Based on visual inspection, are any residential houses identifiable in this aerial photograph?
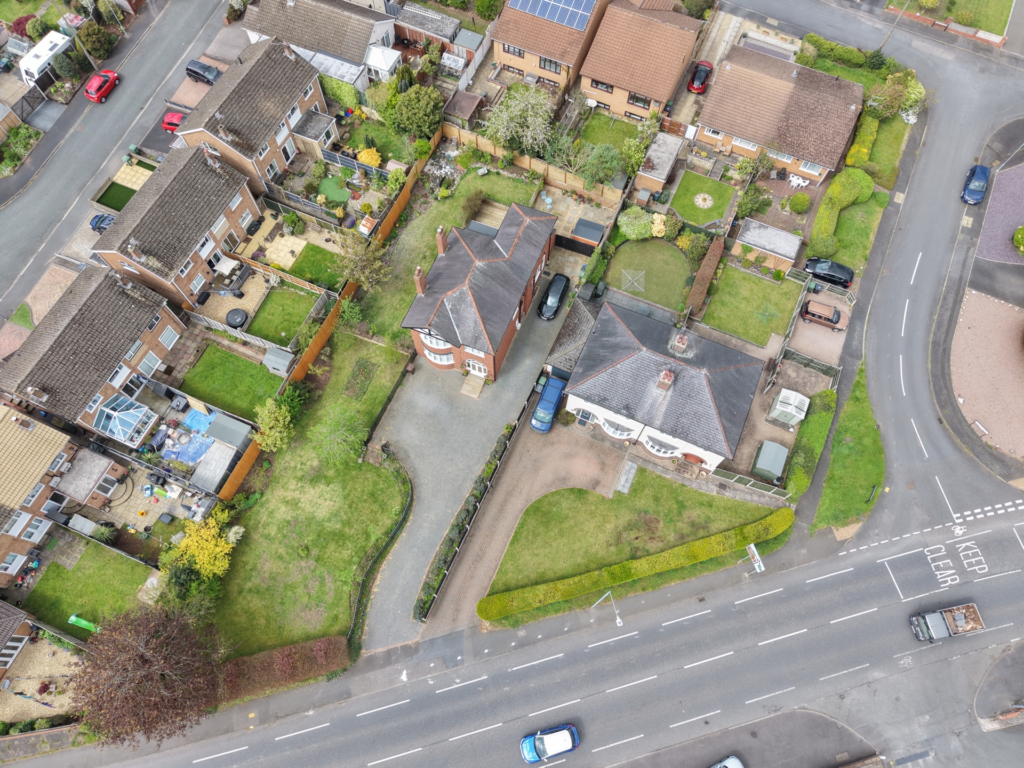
Yes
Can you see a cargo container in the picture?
No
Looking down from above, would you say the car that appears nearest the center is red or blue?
blue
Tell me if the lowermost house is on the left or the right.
left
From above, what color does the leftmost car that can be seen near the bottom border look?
white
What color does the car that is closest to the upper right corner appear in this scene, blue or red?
blue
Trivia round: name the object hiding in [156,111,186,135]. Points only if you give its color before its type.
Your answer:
red car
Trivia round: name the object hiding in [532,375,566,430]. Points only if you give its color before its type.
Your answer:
blue car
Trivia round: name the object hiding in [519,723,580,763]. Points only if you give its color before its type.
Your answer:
white car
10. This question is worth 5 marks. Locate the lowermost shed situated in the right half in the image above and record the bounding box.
[750,441,787,482]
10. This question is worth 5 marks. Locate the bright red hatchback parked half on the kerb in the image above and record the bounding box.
[85,72,122,102]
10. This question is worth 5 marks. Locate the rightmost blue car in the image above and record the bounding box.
[960,163,993,204]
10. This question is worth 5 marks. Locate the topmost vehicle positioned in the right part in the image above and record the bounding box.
[688,63,714,95]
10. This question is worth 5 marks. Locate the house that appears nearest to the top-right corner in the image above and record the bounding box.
[696,43,882,185]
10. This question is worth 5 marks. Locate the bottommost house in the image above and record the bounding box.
[0,595,42,680]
